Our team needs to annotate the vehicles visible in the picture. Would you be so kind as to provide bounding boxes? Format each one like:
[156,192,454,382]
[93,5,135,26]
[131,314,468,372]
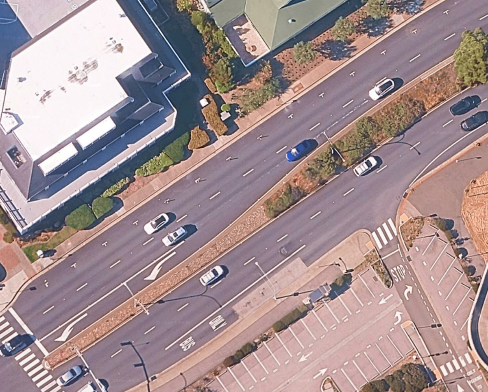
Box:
[286,138,315,161]
[451,93,481,117]
[55,365,84,388]
[462,109,488,132]
[197,264,226,287]
[142,211,172,236]
[160,224,188,248]
[77,381,102,392]
[352,154,380,178]
[367,76,396,100]
[0,335,27,360]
